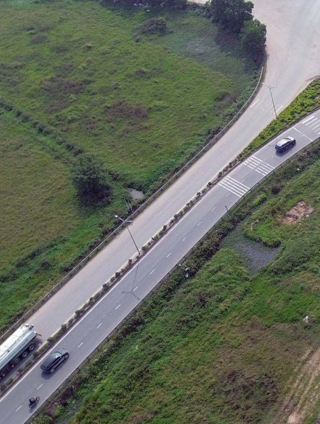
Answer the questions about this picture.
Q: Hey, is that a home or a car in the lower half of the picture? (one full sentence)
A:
What appears in the lower half of the picture is a car.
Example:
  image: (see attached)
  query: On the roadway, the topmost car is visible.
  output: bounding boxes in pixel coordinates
[274,136,296,153]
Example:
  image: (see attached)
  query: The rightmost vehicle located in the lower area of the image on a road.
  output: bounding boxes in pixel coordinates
[41,348,69,373]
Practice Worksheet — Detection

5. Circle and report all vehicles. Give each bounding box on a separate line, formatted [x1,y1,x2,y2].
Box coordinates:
[28,398,37,408]
[0,327,31,366]
[41,348,69,373]
[274,136,296,153]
